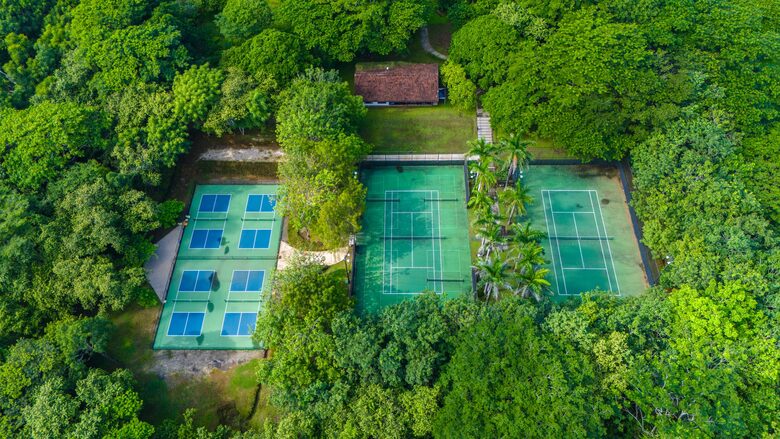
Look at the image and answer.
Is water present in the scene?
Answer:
No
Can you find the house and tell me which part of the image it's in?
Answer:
top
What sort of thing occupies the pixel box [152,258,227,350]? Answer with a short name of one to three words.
sports court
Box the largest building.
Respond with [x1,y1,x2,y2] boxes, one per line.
[354,63,448,107]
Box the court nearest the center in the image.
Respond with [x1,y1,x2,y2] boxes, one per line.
[352,165,476,319]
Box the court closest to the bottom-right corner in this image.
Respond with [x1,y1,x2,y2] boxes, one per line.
[521,162,658,309]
